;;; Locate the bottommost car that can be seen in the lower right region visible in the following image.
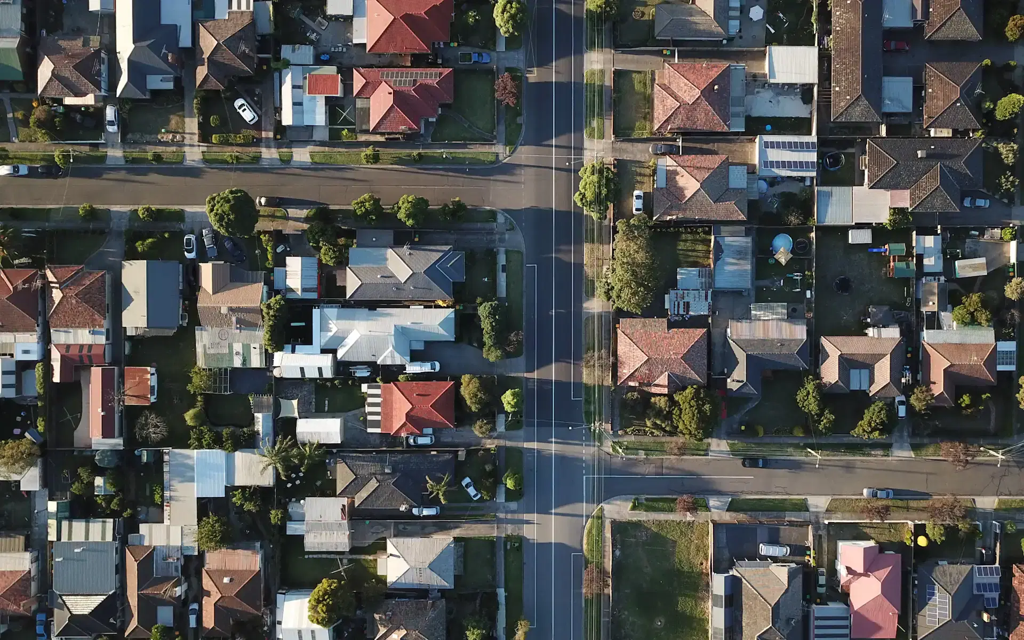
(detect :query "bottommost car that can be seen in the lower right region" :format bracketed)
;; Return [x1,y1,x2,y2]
[814,566,828,593]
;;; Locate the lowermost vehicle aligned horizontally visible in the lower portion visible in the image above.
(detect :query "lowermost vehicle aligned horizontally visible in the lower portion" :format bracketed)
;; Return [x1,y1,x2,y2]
[758,542,790,558]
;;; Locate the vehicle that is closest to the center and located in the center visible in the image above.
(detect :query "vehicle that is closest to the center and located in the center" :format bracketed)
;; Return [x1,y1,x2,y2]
[407,361,440,376]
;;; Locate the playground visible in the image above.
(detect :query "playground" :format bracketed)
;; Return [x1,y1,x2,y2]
[868,244,917,277]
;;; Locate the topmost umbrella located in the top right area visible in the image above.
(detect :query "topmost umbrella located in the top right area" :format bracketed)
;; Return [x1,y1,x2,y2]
[747,7,763,22]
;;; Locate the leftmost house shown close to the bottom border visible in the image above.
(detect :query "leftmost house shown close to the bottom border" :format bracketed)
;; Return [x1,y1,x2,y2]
[0,531,40,617]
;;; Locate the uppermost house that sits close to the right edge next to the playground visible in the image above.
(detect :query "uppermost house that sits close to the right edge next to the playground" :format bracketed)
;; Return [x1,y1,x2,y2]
[812,138,983,226]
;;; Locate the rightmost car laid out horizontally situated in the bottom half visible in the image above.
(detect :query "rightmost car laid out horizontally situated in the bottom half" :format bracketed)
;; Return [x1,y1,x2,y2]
[862,486,892,499]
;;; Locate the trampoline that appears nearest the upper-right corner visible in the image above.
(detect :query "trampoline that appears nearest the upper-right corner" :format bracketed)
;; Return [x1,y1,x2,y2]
[824,148,847,170]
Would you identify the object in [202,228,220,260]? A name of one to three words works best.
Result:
vehicle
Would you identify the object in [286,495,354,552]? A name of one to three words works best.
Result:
building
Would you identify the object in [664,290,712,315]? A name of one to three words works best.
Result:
shed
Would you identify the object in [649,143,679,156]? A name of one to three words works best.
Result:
vehicle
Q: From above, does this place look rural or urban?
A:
urban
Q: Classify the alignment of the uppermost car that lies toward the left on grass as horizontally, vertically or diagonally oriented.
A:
diagonally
